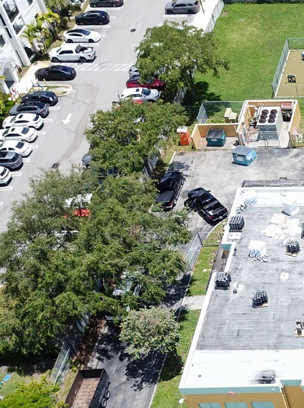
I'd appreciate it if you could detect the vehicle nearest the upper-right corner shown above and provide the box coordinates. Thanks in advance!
[163,0,201,14]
